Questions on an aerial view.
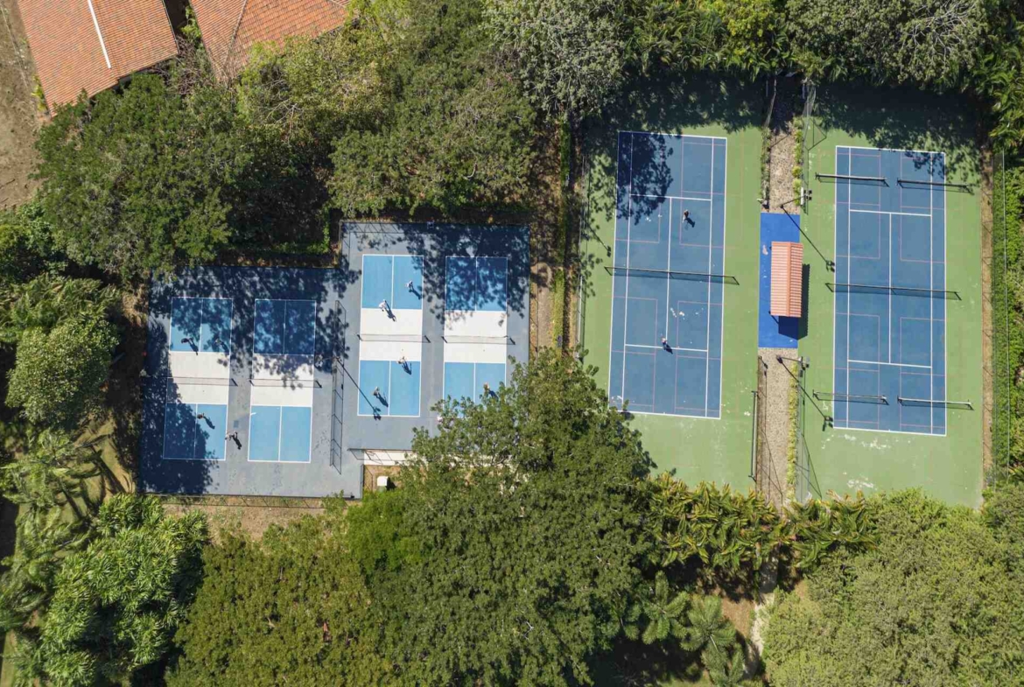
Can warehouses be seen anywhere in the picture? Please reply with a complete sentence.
No, there isn't any warehouse down there.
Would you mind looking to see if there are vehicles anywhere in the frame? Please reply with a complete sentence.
No, there appears to be no vehicle in this shot.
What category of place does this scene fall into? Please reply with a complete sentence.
This image shows a sports ground.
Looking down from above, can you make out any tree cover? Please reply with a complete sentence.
Yes, there's tree cover in this view.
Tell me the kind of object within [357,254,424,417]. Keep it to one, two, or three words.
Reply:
sports court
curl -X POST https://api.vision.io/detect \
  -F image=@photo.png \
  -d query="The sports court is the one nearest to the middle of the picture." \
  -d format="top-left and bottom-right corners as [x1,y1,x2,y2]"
[442,256,508,419]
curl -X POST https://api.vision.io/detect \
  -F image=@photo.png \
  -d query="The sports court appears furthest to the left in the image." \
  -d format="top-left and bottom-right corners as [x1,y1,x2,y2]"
[163,297,233,461]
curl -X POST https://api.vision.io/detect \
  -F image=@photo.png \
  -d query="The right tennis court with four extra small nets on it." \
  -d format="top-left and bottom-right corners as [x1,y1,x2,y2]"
[793,72,984,516]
